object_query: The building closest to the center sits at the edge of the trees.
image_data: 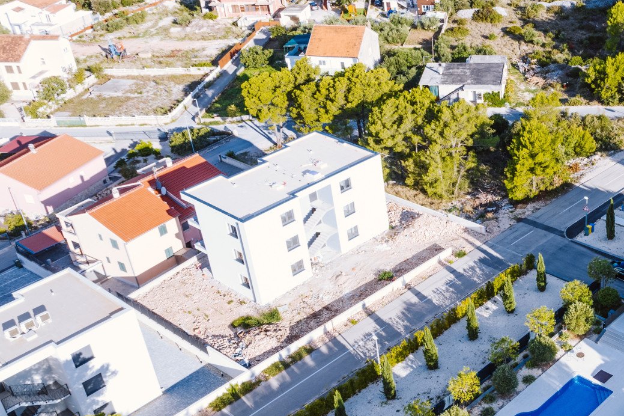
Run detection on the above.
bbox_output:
[172,133,390,303]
